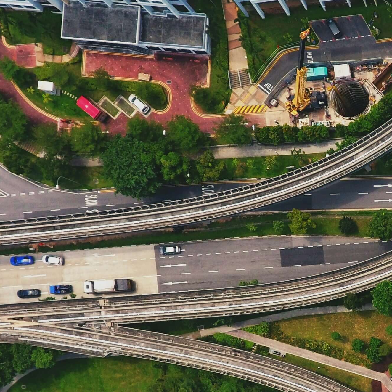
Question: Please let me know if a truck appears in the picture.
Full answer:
Yes, there's a truck down there.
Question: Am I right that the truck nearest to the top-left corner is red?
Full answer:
Yes, red is the color of the truck nearest to the top-left corner.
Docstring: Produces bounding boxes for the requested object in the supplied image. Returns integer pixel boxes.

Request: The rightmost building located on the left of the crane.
[140,10,215,59]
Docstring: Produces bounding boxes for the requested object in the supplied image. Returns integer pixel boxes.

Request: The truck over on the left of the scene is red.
[68,91,106,124]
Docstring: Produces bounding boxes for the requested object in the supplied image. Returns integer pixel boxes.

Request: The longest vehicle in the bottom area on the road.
[79,279,132,293]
